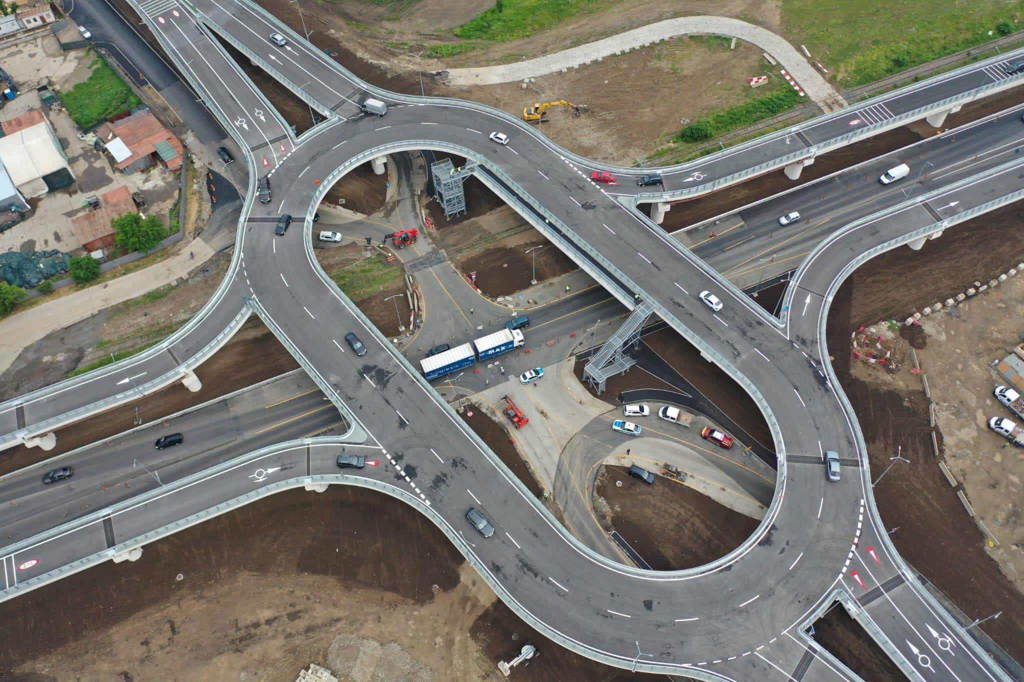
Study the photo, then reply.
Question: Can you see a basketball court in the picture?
No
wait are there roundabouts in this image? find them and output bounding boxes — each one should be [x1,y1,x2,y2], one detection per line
[154,23,916,682]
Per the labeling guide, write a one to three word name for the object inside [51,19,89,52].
building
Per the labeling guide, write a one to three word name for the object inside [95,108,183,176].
shed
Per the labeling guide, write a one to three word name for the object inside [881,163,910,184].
vehicle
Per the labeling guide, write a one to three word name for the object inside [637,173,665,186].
vehicle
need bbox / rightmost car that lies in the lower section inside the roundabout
[824,450,841,482]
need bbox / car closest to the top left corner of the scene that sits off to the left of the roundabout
[75,24,93,38]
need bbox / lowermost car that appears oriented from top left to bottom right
[464,505,496,538]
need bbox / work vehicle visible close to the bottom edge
[500,642,541,674]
